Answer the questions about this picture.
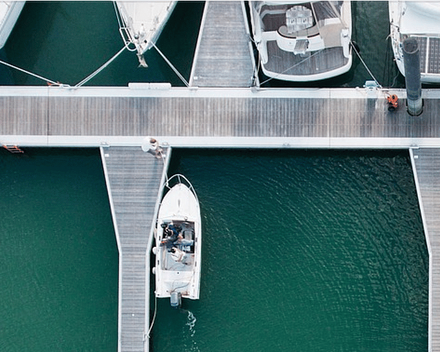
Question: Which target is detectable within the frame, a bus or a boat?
boat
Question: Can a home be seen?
No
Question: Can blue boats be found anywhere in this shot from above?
No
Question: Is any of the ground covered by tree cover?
No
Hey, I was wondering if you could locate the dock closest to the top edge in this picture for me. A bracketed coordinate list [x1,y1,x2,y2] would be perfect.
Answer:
[188,0,258,88]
